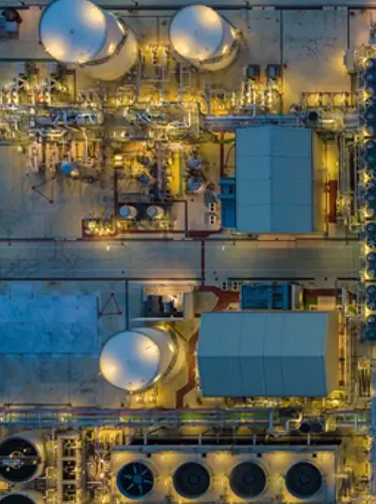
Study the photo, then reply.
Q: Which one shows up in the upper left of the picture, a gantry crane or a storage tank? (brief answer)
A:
storage tank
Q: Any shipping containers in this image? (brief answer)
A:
Yes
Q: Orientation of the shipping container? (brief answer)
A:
horizontally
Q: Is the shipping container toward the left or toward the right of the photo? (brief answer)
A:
right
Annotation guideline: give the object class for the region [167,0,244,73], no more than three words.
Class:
storage tank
